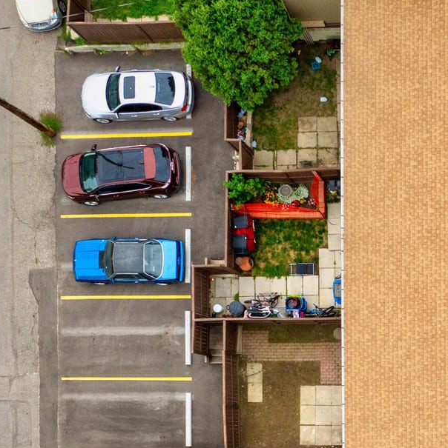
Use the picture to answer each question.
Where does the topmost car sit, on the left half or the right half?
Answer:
left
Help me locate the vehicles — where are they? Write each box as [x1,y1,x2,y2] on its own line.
[15,0,68,36]
[63,145,182,203]
[82,67,194,122]
[73,233,185,282]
